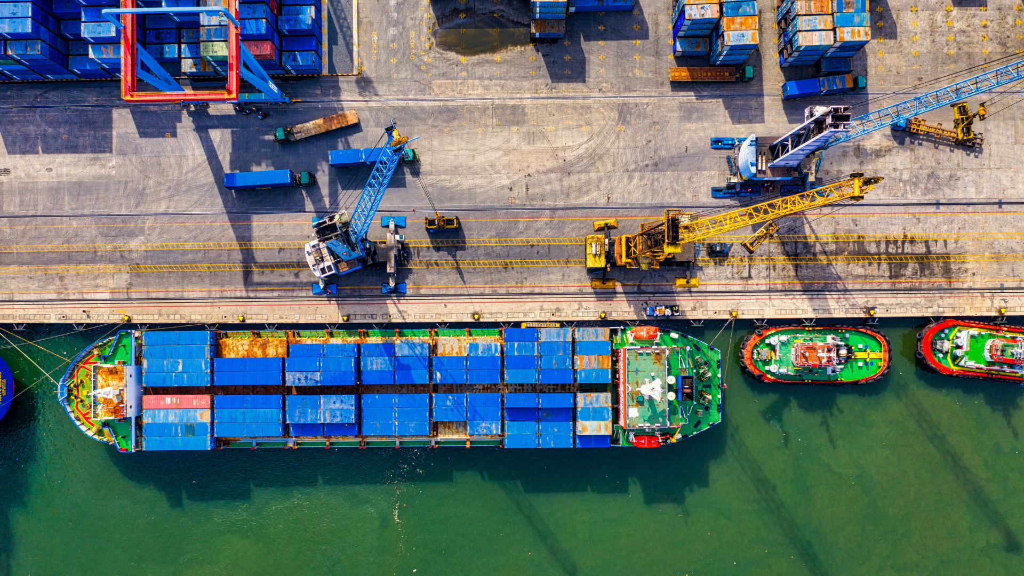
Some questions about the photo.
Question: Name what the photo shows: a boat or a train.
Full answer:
Of the two, only a boat appears.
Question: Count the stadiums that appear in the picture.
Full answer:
There are no stadiums in this view.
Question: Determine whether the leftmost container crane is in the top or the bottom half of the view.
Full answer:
The leftmost container crane sits in the top half of the picture.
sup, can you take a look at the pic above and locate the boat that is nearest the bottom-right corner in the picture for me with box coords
[914,318,1024,383]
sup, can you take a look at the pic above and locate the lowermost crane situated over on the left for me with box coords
[303,117,437,295]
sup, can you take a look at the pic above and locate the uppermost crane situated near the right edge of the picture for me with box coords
[710,43,1024,198]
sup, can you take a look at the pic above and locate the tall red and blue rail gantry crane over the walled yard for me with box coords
[103,0,321,110]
